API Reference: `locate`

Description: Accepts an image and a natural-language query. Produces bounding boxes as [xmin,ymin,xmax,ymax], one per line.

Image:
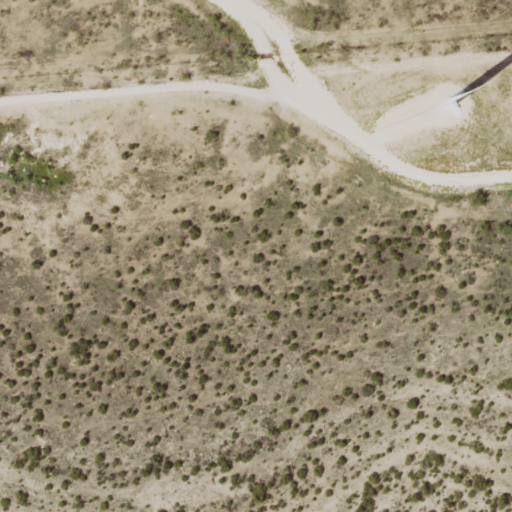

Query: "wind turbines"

[379,76,500,126]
